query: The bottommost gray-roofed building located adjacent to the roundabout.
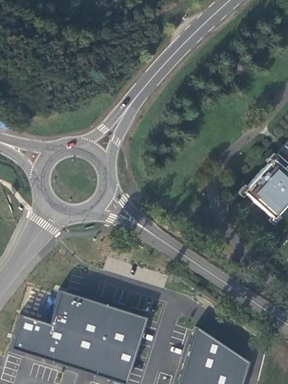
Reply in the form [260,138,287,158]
[13,290,148,384]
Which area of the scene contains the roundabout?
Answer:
left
